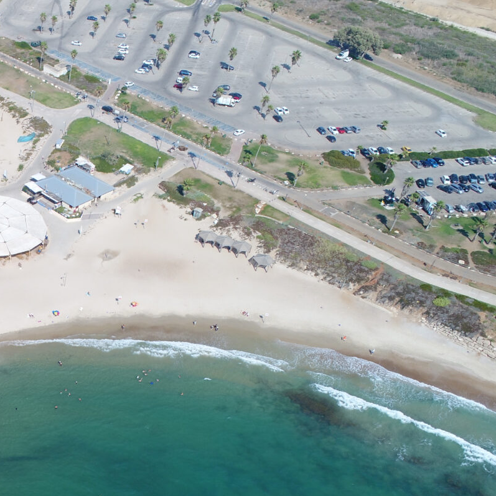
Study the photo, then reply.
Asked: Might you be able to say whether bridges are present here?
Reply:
No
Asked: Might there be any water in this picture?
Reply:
Yes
